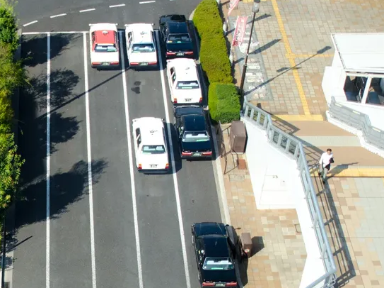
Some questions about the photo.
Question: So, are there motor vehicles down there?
Yes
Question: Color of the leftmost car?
white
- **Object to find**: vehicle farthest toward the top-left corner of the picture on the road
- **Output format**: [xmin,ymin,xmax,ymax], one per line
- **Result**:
[87,16,118,66]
